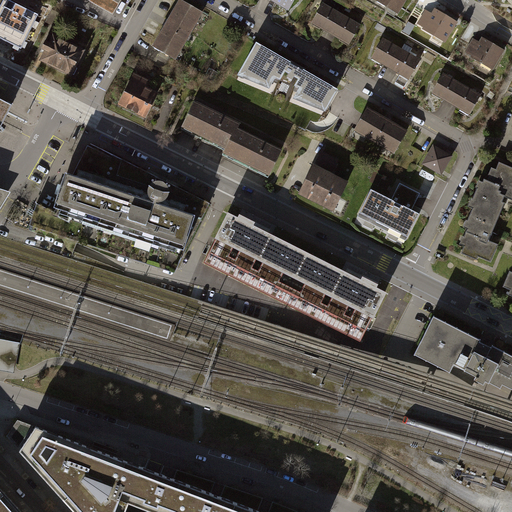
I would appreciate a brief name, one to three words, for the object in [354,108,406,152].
house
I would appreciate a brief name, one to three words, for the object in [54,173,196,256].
building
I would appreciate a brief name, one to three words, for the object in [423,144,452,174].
house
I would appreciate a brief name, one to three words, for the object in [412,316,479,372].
building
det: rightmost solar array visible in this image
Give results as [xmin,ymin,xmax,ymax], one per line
[362,192,416,234]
